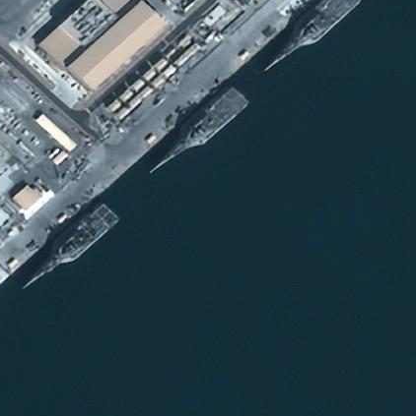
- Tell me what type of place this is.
port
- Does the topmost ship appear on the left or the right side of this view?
right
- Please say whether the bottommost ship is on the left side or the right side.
left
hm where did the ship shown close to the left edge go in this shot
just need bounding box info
[20,197,120,288]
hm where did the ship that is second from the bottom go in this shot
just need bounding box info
[136,83,250,172]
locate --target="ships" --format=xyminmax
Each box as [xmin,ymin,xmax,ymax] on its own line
[264,0,364,71]
[136,83,250,172]
[20,197,120,288]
